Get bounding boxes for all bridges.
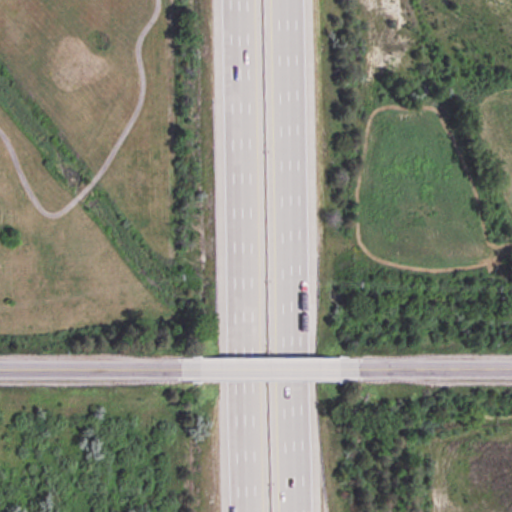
[184,356,360,384]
